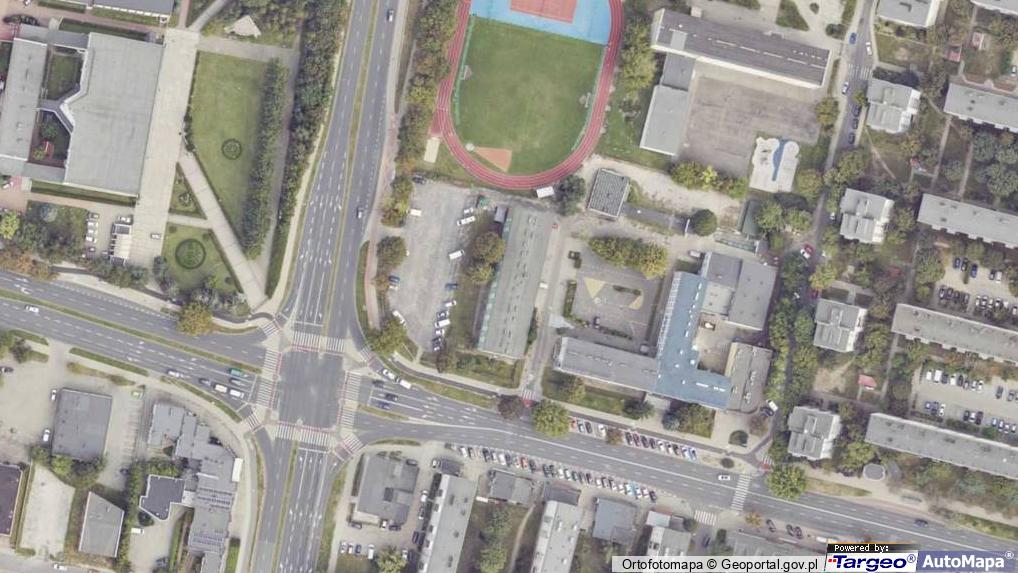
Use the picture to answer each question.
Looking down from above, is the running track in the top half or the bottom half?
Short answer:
top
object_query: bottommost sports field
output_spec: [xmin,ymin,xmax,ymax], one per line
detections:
[451,13,607,180]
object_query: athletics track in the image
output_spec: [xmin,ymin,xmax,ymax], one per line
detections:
[428,0,624,193]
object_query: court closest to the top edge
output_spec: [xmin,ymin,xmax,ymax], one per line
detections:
[469,0,610,44]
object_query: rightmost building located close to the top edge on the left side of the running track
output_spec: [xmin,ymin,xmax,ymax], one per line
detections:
[226,15,260,37]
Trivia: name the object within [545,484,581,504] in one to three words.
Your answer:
shed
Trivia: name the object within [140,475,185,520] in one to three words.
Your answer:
building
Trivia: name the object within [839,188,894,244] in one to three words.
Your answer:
building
